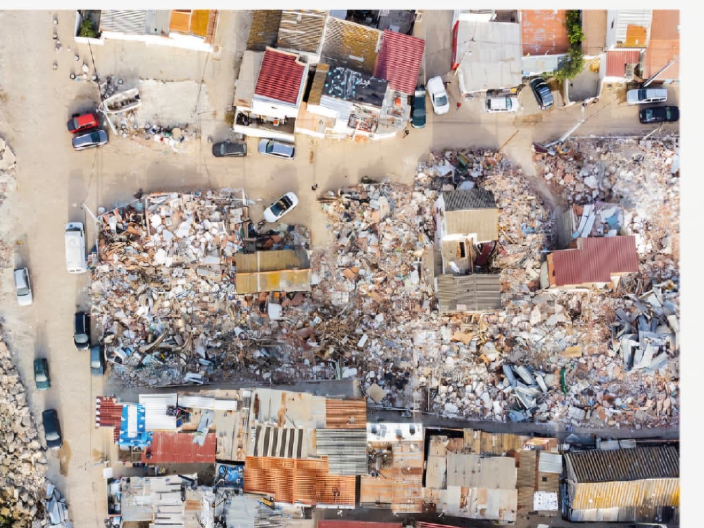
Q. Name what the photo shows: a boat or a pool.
boat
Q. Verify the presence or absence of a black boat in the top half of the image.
No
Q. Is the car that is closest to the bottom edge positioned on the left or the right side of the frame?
left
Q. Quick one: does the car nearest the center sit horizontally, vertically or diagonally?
diagonally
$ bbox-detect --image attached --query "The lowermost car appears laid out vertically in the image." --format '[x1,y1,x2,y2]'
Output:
[42,408,63,448]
